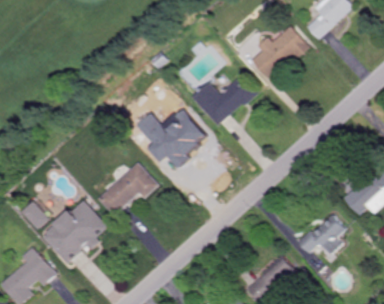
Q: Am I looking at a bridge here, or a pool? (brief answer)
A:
pool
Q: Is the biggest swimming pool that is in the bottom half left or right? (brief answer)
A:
left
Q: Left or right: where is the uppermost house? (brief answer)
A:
right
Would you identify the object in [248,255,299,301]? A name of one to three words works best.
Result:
house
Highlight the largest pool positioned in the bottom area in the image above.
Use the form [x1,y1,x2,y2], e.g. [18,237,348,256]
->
[38,170,84,219]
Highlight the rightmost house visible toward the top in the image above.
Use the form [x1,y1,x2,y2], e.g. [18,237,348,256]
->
[308,0,354,40]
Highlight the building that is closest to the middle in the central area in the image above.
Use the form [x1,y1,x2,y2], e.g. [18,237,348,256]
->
[138,107,210,172]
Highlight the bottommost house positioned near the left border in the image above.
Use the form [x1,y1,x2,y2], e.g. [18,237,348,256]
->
[1,248,58,304]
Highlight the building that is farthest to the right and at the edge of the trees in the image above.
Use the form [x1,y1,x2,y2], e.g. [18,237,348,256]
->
[344,172,384,218]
